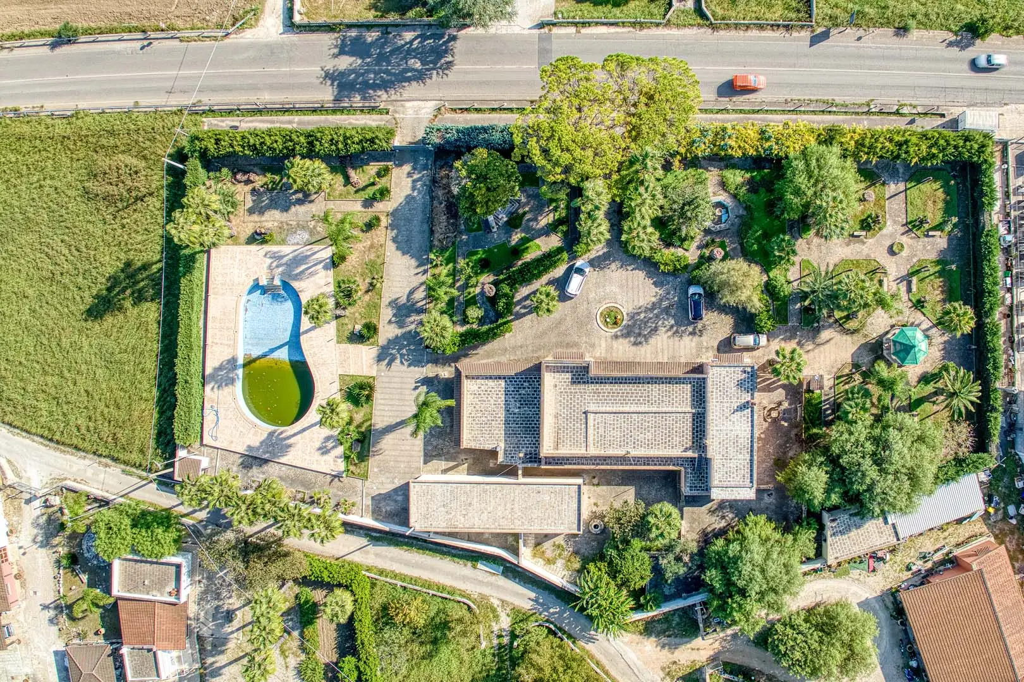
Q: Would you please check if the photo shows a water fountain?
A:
Yes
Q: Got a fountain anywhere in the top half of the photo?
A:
Yes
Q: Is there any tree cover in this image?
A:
Yes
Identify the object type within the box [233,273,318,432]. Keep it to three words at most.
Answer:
swimming pool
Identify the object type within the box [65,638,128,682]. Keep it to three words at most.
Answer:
house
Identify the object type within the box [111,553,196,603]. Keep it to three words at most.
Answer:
house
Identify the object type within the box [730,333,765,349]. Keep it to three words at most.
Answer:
car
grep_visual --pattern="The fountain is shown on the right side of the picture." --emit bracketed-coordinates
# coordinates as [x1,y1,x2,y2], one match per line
[706,198,737,228]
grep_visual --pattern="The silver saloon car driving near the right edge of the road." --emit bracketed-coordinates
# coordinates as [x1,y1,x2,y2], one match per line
[969,53,1006,71]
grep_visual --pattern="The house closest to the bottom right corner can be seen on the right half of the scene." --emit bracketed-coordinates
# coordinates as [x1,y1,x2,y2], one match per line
[896,539,1024,682]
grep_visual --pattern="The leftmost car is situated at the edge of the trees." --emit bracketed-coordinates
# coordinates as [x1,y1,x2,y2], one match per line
[565,261,588,297]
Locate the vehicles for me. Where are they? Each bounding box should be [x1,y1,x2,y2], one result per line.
[565,261,588,297]
[730,73,764,94]
[730,333,765,349]
[969,53,1006,71]
[686,285,705,320]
